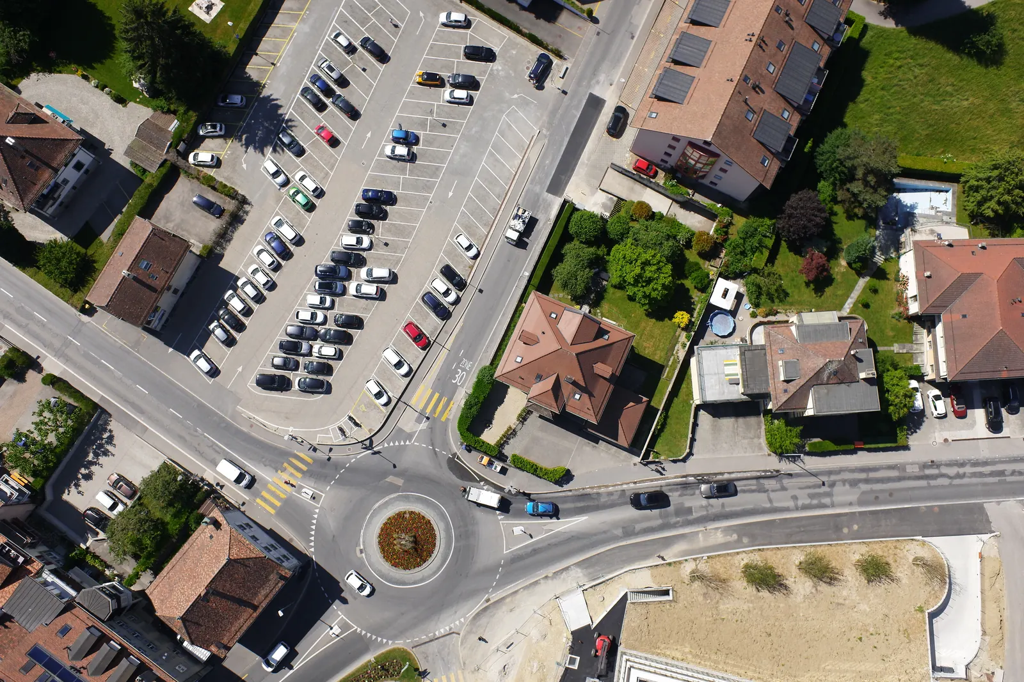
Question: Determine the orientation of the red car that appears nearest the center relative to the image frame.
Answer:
on a diagonal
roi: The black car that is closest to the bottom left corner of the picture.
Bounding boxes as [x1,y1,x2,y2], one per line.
[82,506,113,533]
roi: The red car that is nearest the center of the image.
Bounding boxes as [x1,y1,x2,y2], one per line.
[401,319,430,350]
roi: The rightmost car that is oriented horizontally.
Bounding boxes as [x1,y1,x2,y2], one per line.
[698,481,737,499]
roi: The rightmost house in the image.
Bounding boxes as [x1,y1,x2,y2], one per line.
[885,223,1024,385]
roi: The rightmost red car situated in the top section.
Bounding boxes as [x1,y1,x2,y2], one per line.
[631,157,656,176]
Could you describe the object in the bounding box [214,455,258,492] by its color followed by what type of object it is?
white vehicle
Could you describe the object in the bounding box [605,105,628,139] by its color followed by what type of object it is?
black car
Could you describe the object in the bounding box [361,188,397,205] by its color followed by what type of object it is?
black car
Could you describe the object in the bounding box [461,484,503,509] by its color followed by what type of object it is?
white truck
